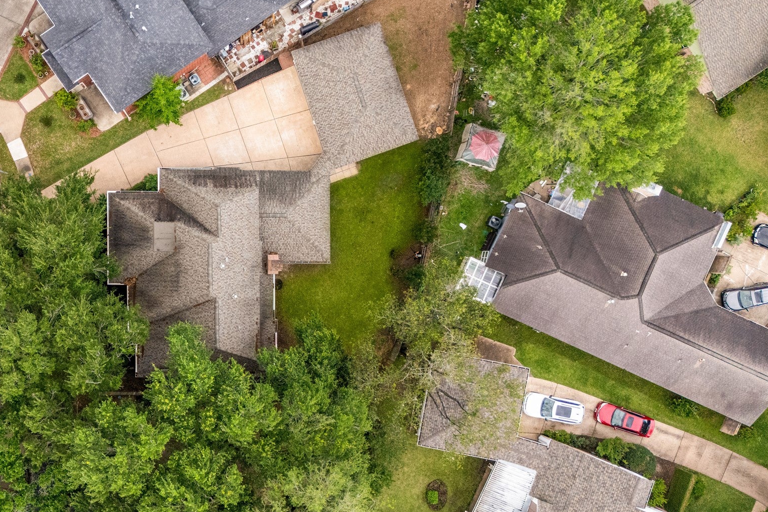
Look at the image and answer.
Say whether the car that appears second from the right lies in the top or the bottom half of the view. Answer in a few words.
bottom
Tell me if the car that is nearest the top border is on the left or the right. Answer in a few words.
right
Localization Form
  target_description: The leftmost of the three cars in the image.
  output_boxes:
[523,393,586,426]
